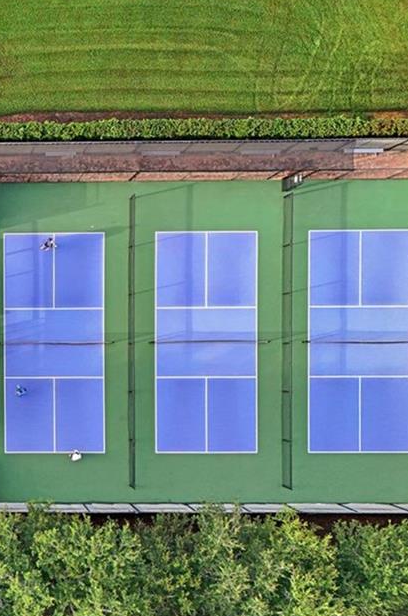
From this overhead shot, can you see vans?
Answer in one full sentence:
No, this view has no van in it.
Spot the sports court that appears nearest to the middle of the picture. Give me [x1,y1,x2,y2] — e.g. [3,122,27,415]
[156,231,257,453]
